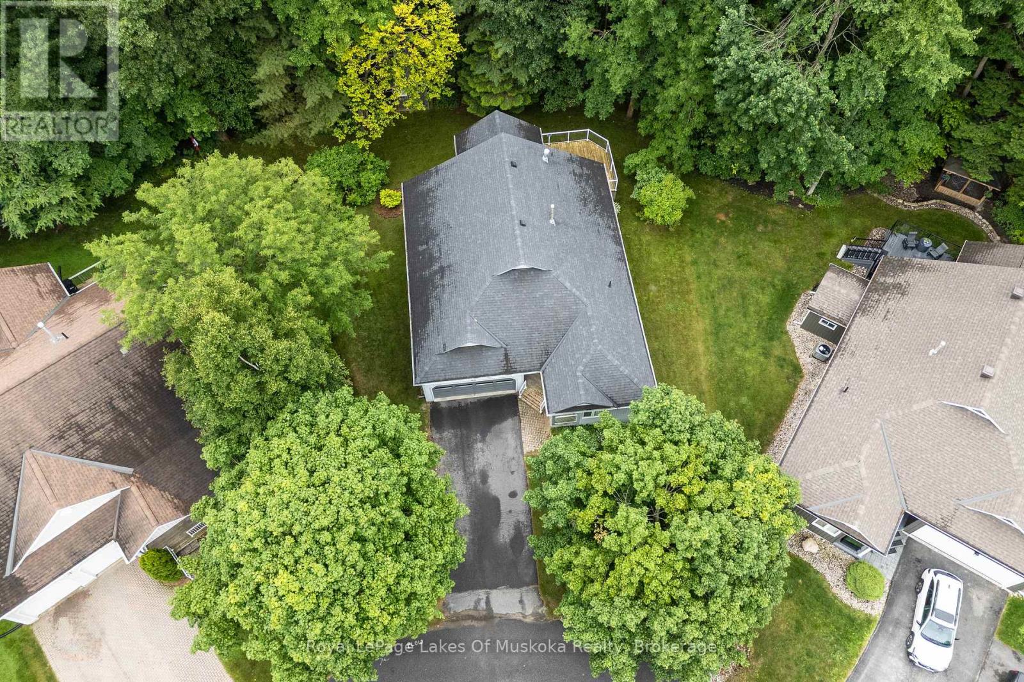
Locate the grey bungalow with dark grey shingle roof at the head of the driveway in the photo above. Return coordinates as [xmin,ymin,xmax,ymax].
[401,111,662,429]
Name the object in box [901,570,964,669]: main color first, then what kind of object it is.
white car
